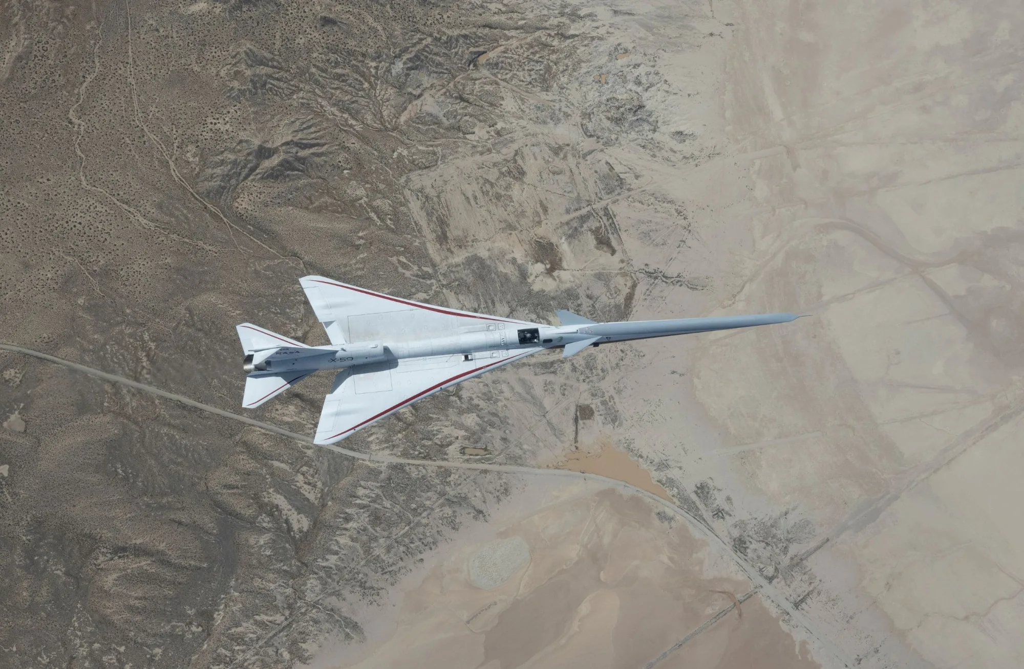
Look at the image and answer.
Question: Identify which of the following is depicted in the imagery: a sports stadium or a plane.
plane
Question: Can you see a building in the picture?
No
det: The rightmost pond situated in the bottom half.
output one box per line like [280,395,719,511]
[561,443,671,500]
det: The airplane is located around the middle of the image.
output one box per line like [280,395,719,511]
[237,274,813,444]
